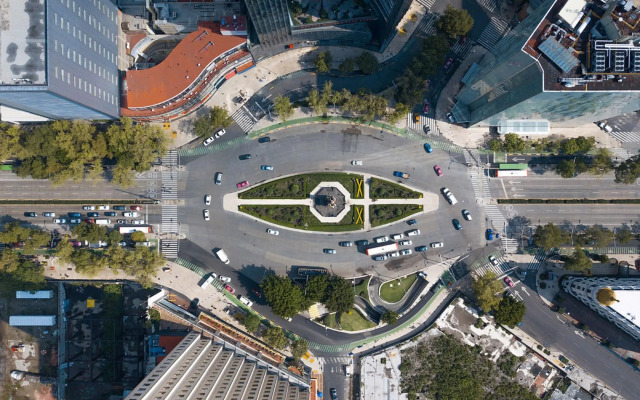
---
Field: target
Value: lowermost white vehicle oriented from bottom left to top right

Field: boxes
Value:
[198,272,218,291]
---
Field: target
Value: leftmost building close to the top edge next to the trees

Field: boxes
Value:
[0,0,120,121]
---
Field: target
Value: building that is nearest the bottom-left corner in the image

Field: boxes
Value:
[9,314,58,326]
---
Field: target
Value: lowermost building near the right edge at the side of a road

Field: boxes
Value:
[561,276,640,344]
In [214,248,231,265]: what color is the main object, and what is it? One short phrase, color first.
white vehicle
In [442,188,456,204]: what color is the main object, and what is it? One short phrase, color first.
white vehicle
